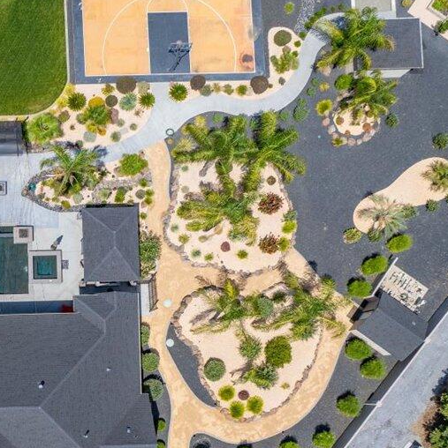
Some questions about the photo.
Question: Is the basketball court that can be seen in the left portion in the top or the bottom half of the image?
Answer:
top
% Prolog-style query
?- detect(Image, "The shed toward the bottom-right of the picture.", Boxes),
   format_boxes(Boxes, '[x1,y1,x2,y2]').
[342,292,428,363]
